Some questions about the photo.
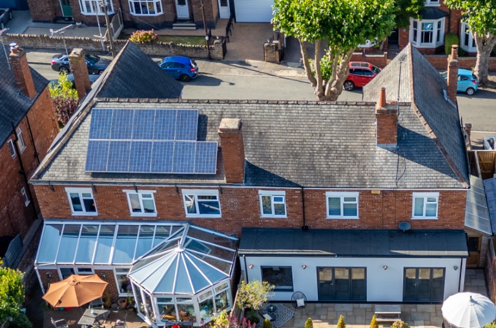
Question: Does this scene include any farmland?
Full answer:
No, farmland can't be seen anywhere here.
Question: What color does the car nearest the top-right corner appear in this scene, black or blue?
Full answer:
The car nearest the top-right corner looks blue in the image.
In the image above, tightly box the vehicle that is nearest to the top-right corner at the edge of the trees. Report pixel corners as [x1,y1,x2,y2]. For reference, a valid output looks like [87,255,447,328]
[448,67,485,93]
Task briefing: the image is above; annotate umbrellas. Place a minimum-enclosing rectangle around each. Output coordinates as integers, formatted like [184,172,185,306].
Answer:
[440,296,495,328]
[49,275,111,316]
